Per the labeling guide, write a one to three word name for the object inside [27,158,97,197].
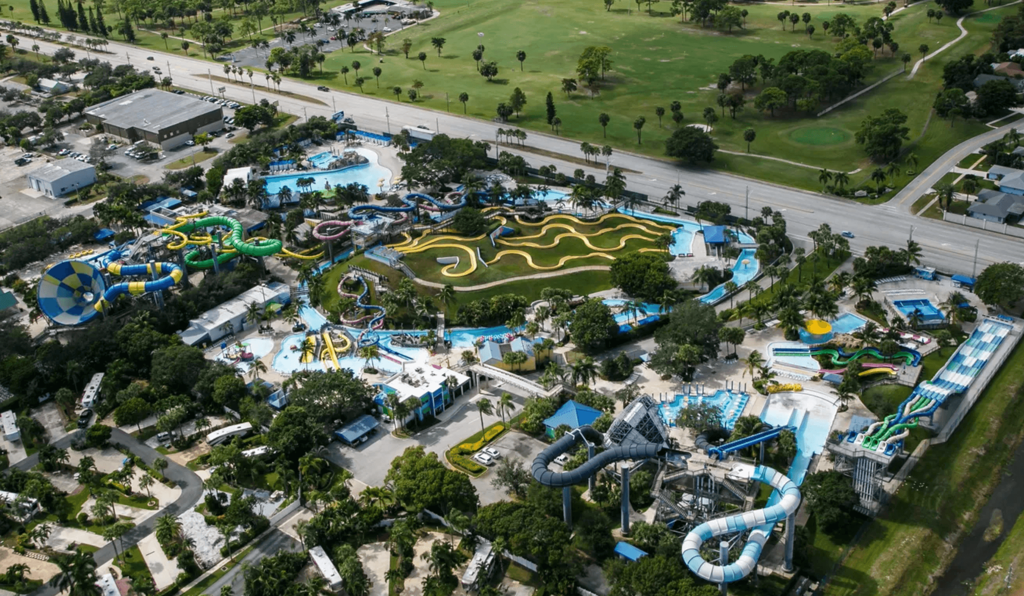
building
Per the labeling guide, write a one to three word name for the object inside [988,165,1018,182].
house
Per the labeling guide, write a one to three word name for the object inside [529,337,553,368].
building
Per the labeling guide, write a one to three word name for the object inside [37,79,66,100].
house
